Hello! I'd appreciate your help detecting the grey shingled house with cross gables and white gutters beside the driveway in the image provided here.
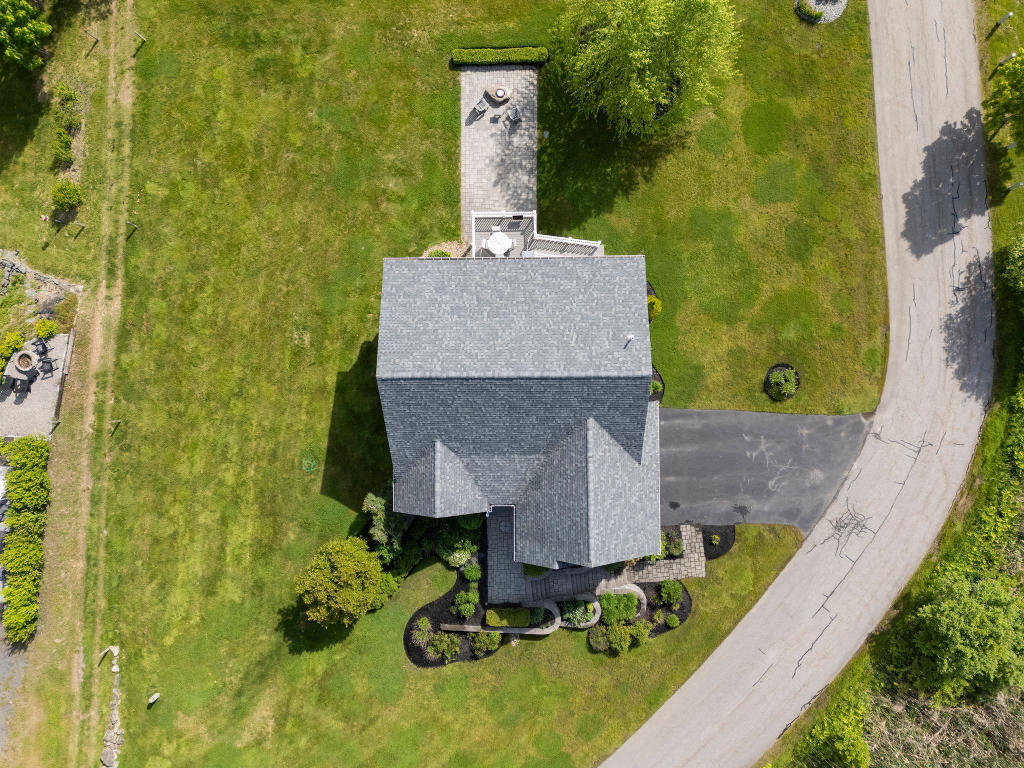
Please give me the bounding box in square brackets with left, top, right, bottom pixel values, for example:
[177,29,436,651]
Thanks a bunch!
[377,252,663,569]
